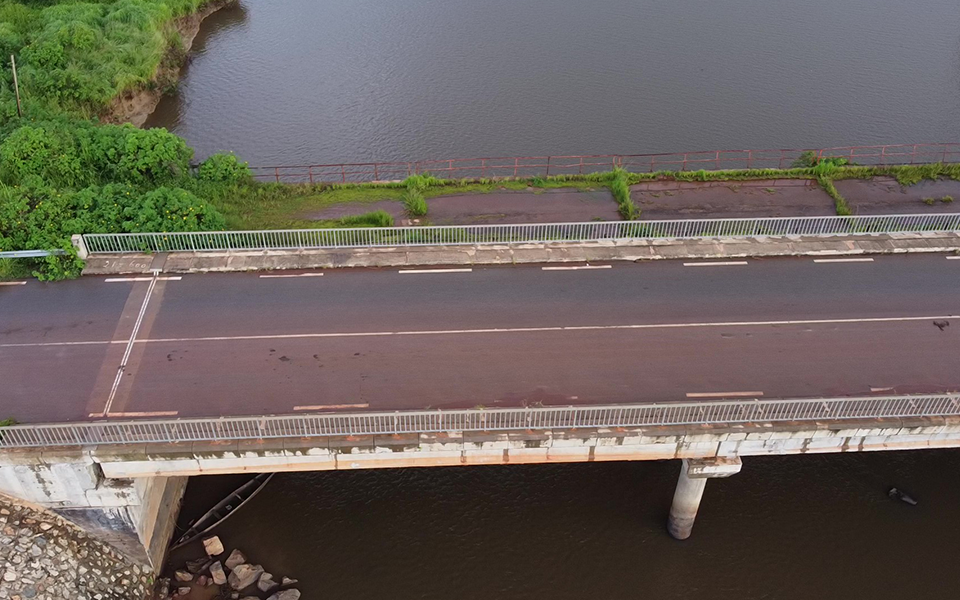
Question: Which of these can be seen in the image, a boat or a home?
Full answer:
Looking from above, you can make out a boat.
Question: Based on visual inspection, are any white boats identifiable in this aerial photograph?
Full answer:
No, I can see no white boat in this picture.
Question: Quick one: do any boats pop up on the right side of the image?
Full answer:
No, no boat appears on the right side of the image.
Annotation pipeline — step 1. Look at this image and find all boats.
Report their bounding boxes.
[169,471,278,550]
